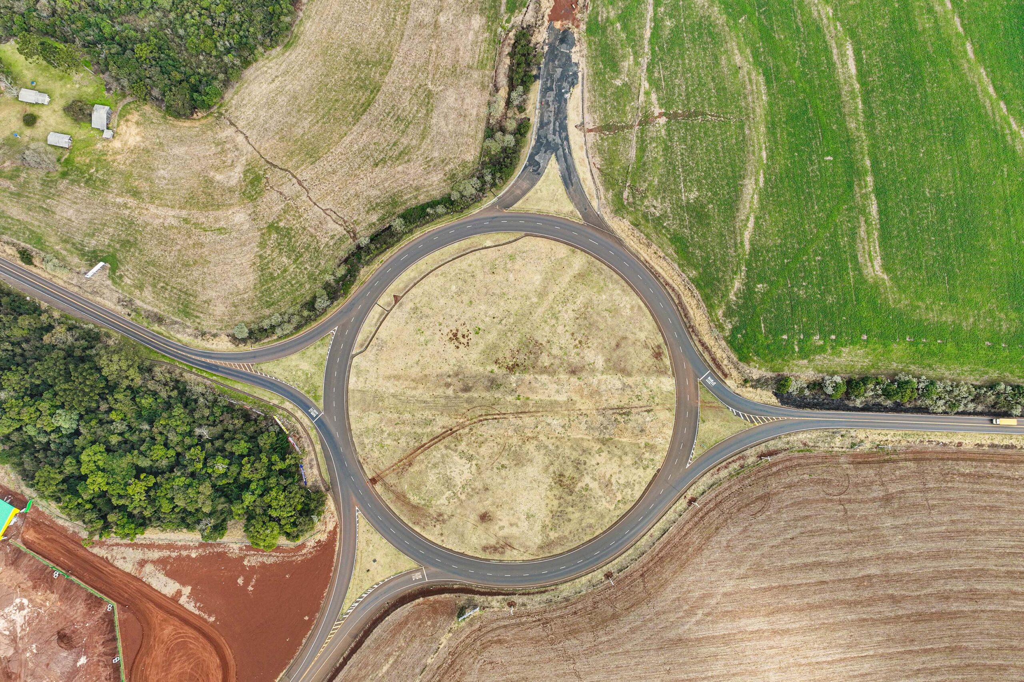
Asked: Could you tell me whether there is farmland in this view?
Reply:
Yes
